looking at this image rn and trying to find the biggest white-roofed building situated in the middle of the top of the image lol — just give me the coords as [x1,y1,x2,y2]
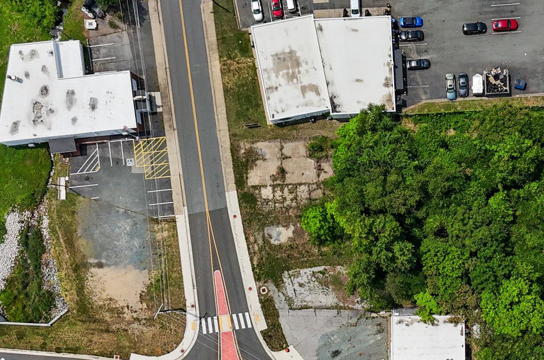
[250,14,396,127]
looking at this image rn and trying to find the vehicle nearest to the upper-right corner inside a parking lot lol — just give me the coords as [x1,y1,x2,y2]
[492,17,519,31]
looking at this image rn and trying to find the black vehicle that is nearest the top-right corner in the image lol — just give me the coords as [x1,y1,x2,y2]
[462,20,486,33]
